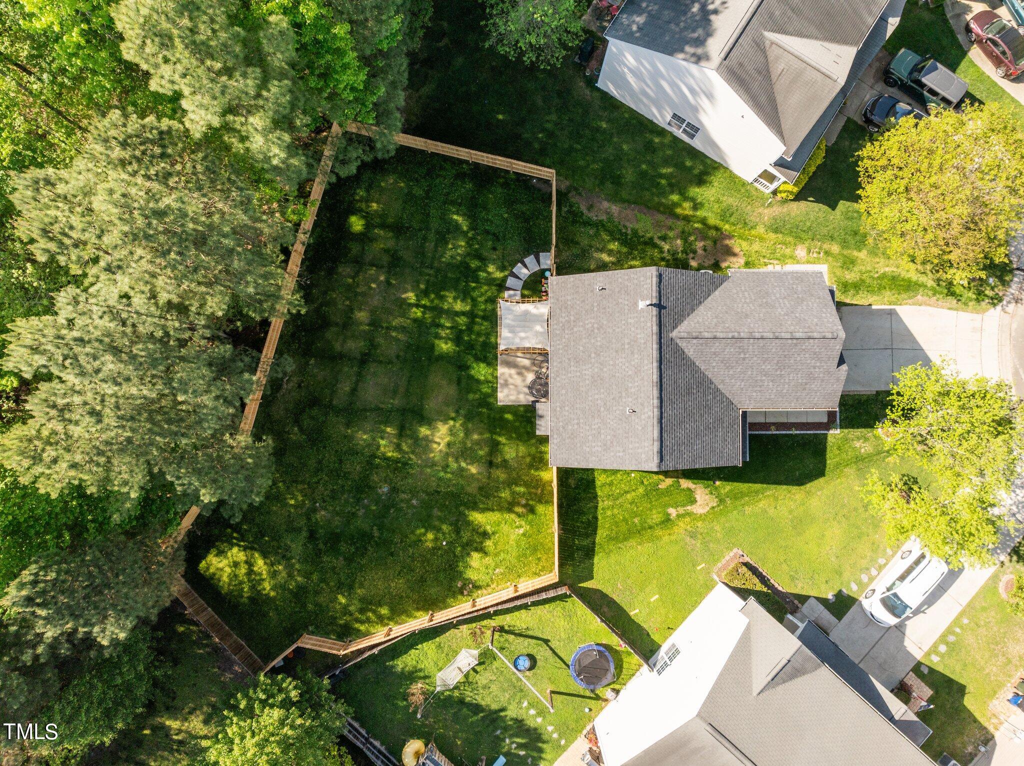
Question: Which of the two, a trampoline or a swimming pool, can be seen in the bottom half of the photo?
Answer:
trampoline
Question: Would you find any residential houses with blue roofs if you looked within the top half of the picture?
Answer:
No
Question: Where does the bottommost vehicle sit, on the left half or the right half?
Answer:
right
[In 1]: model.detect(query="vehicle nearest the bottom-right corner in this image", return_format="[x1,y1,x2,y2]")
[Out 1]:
[862,542,947,626]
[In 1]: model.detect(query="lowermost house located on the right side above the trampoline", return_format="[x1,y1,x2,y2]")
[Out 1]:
[536,267,849,471]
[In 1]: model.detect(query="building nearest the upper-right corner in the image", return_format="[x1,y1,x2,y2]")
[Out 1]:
[595,0,909,195]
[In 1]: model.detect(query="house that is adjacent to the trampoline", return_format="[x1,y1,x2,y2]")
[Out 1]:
[596,576,939,766]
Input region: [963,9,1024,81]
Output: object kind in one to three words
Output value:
car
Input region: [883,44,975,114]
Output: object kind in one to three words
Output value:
car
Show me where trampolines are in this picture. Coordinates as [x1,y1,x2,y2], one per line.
[569,639,616,693]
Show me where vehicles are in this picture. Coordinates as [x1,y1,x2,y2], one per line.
[963,9,1024,81]
[883,44,975,114]
[862,542,947,626]
[999,0,1024,35]
[863,94,942,144]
